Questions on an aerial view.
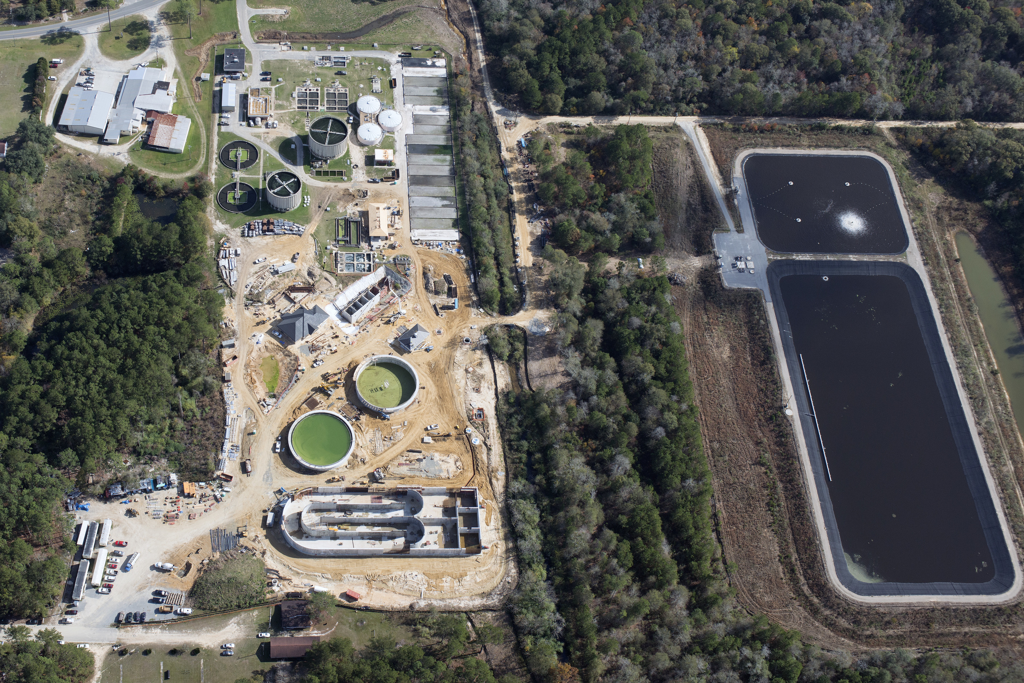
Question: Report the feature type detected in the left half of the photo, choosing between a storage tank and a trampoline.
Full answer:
The one visible in the left half of the photo is a storage tank.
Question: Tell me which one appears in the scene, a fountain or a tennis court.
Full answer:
Looking from above, you can make out a fountain.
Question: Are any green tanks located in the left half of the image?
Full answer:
Yes, you'll find a green tank in the left half of the image.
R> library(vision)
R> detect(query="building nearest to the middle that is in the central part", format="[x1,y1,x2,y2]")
[399,324,429,355]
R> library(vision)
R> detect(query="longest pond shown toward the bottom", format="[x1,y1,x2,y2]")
[767,260,1015,596]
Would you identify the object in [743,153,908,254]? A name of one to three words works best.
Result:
pond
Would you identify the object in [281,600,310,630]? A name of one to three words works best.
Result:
house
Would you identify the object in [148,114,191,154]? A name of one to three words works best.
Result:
shed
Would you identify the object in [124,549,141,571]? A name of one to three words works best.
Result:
vehicle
